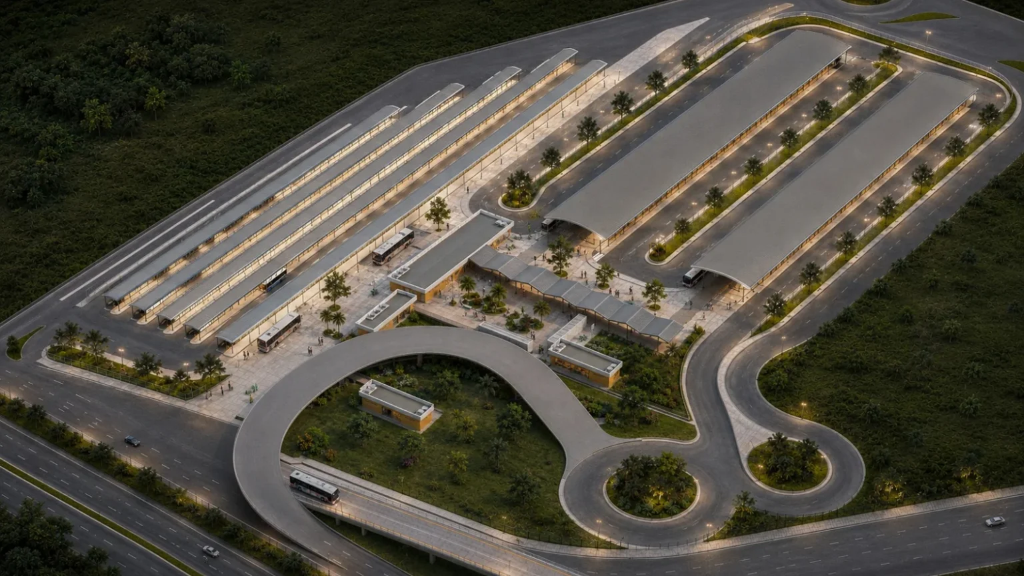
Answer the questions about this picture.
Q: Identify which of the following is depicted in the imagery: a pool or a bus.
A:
bus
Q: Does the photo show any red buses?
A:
No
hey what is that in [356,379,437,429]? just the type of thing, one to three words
building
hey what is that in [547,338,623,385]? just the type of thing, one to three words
building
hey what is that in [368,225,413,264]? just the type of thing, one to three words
bus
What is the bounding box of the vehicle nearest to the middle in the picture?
[540,220,570,238]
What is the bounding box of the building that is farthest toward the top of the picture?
[388,209,515,304]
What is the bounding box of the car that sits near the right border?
[982,514,1008,527]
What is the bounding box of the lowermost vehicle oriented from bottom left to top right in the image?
[252,310,300,351]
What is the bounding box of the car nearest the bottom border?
[199,542,222,559]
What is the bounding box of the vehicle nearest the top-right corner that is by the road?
[685,268,718,291]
